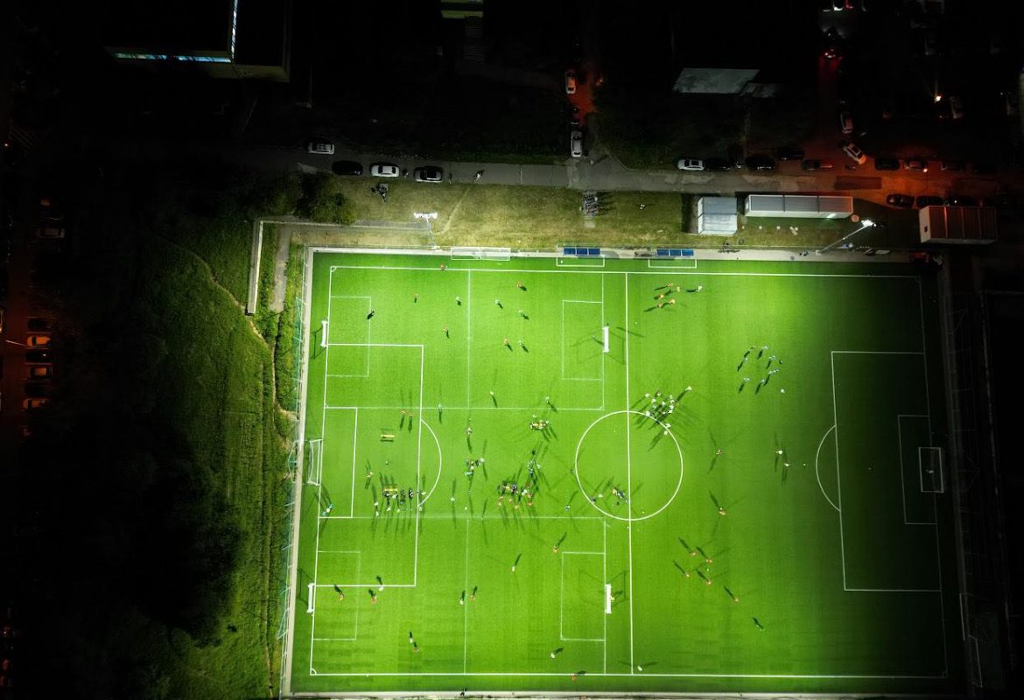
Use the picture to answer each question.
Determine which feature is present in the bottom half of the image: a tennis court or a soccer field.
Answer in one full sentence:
The one visible in the bottom half of the image is a soccer field.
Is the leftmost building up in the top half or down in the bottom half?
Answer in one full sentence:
The top half of the photo is where the leftmost building is.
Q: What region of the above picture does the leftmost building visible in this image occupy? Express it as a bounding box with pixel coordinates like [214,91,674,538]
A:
[93,0,248,77]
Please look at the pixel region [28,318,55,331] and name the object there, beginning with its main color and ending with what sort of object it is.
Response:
black vehicle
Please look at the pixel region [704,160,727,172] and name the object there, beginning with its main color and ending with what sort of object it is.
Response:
black vehicle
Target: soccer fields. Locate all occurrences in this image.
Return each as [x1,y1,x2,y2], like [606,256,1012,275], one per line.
[290,252,967,695]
